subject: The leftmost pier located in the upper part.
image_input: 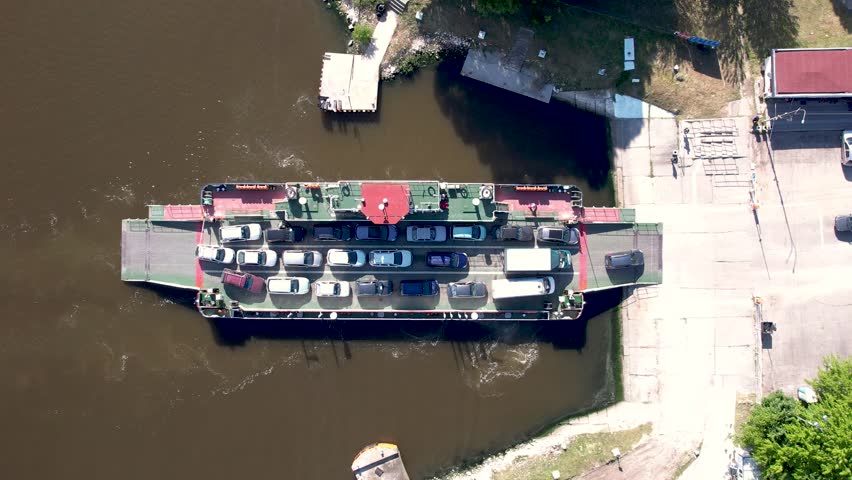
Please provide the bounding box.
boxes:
[318,11,398,114]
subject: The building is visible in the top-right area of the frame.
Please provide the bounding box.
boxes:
[757,47,852,101]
